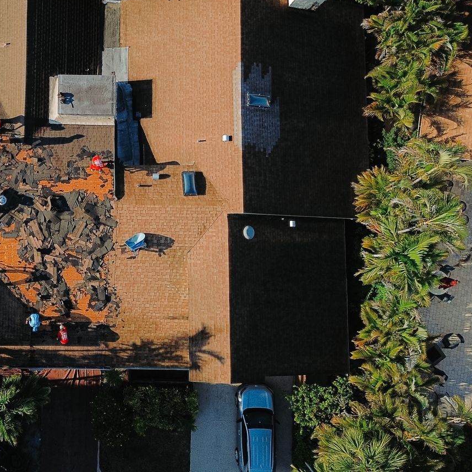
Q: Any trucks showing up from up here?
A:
No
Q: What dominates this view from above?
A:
buildings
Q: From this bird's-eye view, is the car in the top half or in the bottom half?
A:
bottom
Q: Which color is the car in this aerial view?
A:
blue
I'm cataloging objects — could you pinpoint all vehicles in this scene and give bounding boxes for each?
[234,381,282,472]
